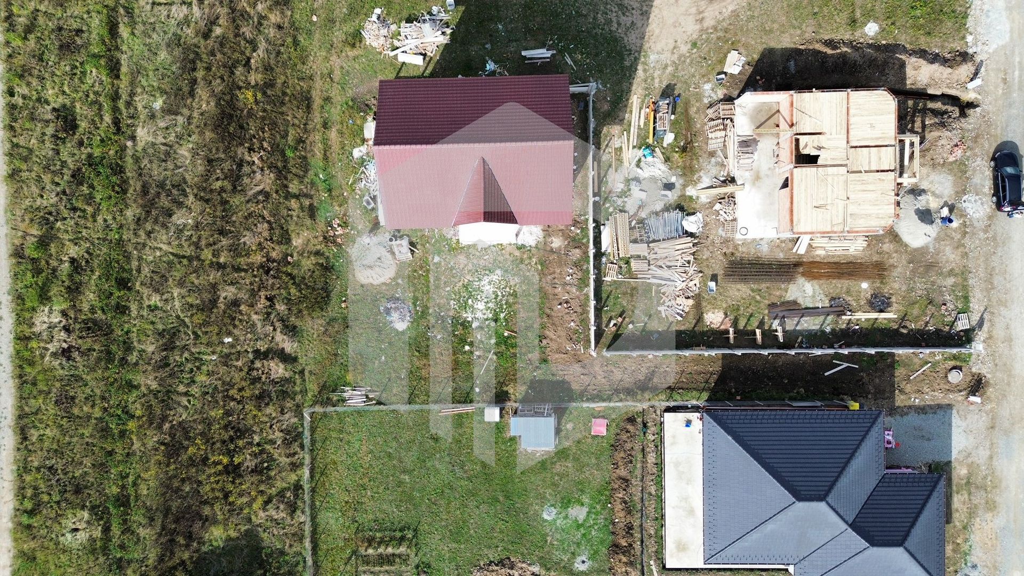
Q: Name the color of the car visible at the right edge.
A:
black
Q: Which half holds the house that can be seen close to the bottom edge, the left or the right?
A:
right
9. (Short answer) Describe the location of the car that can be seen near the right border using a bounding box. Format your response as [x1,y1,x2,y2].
[986,150,1024,213]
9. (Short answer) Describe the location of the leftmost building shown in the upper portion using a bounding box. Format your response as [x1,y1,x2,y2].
[372,74,574,246]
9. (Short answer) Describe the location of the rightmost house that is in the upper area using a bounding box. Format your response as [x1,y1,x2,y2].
[734,85,920,239]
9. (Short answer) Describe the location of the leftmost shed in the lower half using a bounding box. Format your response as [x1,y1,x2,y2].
[510,405,559,447]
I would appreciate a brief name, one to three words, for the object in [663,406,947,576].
house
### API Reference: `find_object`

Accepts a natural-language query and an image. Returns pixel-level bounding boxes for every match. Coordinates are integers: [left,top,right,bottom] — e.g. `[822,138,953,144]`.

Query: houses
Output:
[372,74,574,246]
[663,406,947,576]
[734,85,920,239]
